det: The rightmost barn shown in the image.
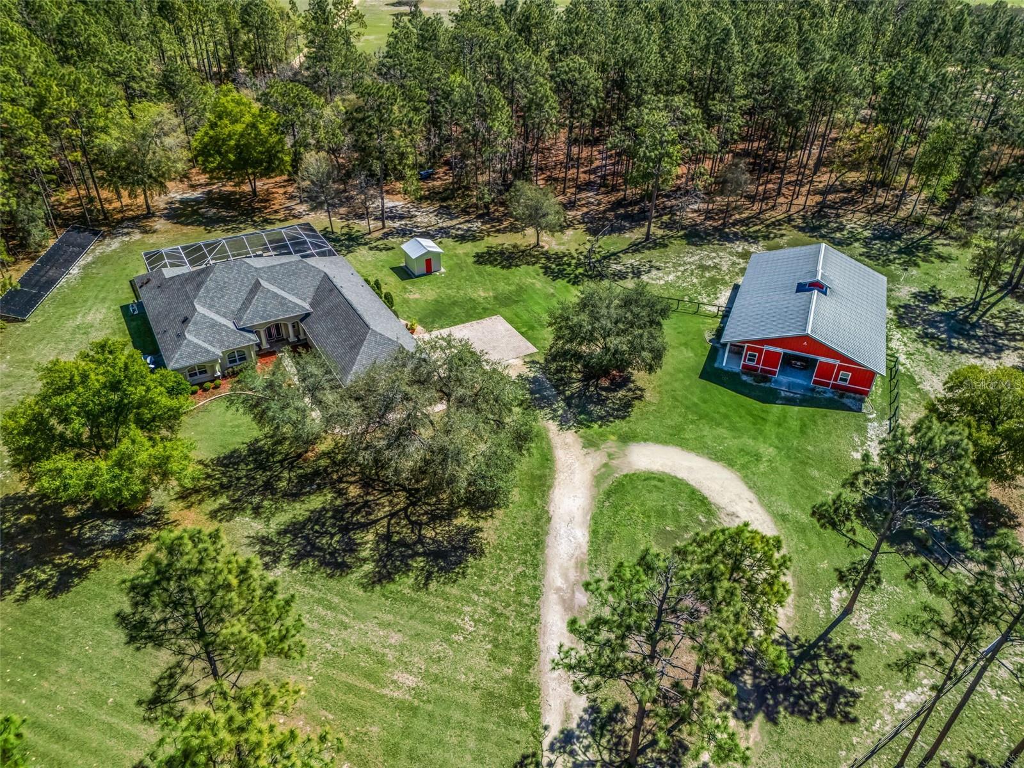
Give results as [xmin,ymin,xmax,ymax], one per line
[720,244,887,396]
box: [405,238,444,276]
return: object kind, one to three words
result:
shed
